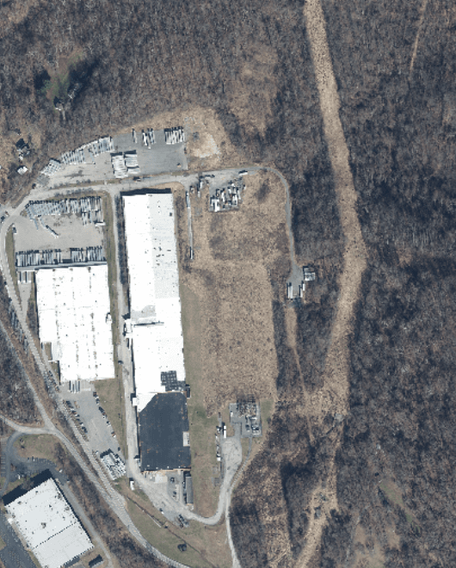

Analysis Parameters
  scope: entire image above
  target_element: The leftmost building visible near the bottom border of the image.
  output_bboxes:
[4,478,94,568]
